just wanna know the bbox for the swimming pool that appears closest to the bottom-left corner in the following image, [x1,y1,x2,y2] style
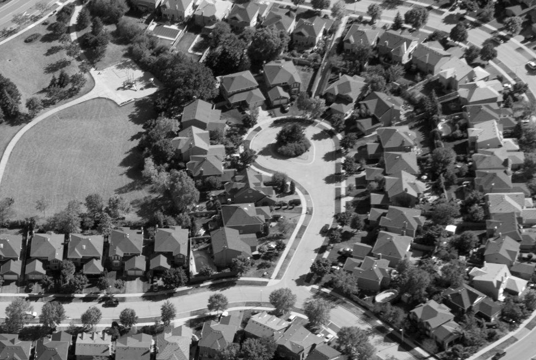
[192,247,216,274]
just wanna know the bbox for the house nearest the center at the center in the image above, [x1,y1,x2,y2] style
[226,166,275,207]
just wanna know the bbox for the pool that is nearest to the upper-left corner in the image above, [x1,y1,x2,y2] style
[153,24,181,39]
